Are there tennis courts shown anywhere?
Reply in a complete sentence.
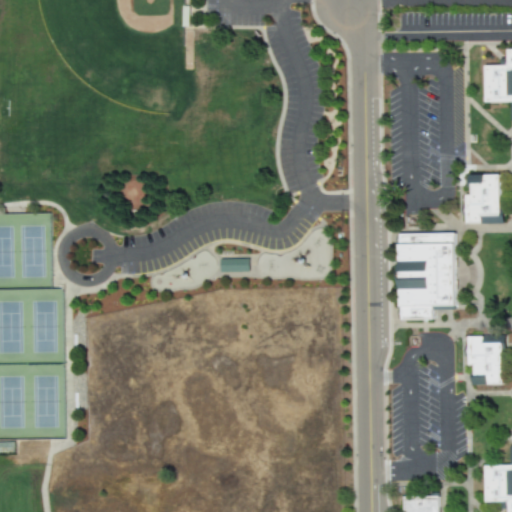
Yes, this view includes a tennis court.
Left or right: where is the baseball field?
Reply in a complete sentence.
The baseball field appears in the left half of the scene.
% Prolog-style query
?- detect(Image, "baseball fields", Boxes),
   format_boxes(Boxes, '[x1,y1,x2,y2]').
[38,0,189,114]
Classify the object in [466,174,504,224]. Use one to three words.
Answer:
building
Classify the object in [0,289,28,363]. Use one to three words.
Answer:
tennis court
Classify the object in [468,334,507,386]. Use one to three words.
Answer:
building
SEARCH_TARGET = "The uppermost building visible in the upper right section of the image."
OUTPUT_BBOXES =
[484,48,512,102]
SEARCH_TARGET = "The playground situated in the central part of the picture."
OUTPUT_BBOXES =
[121,215,334,292]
